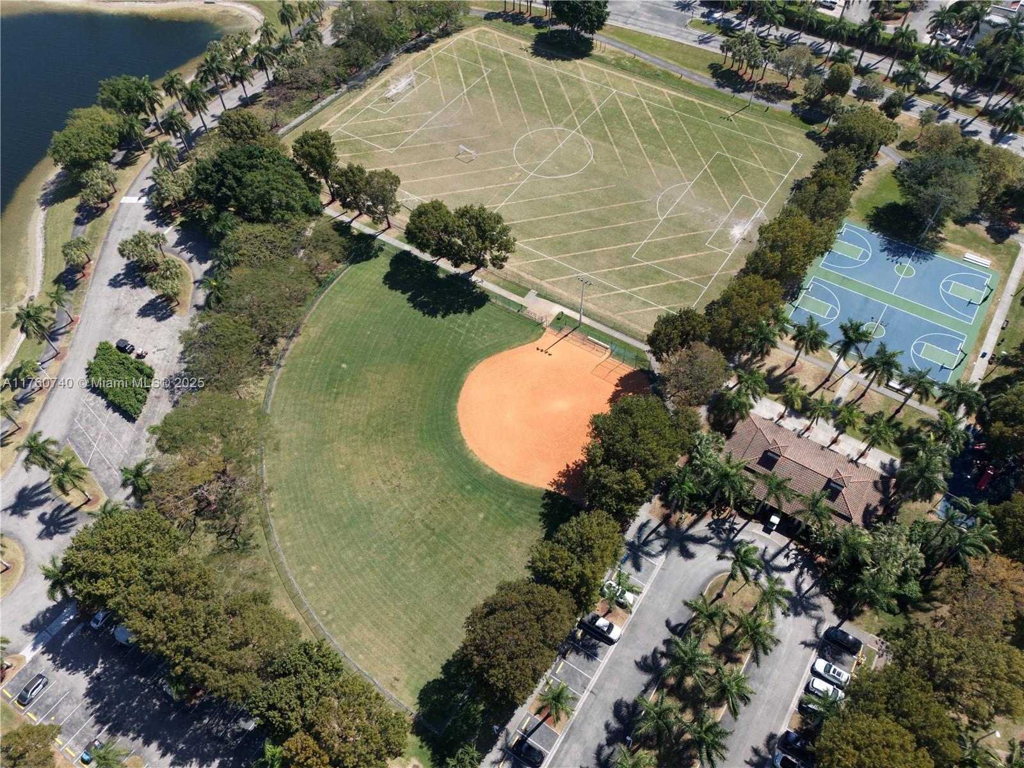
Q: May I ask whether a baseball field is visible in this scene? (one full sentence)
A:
Yes, there is a baseball field in the image.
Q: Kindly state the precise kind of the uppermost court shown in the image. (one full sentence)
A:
Specifically, the uppermost court is a basketball court.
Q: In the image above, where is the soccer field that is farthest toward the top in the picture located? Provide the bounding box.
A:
[280,21,825,343]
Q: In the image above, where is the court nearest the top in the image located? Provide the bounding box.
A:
[821,224,991,323]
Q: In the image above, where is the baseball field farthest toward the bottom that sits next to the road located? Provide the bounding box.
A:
[260,253,655,731]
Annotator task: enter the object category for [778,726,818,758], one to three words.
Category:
car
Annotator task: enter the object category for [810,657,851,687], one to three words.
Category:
car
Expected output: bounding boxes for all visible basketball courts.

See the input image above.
[821,224,991,323]
[788,276,968,386]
